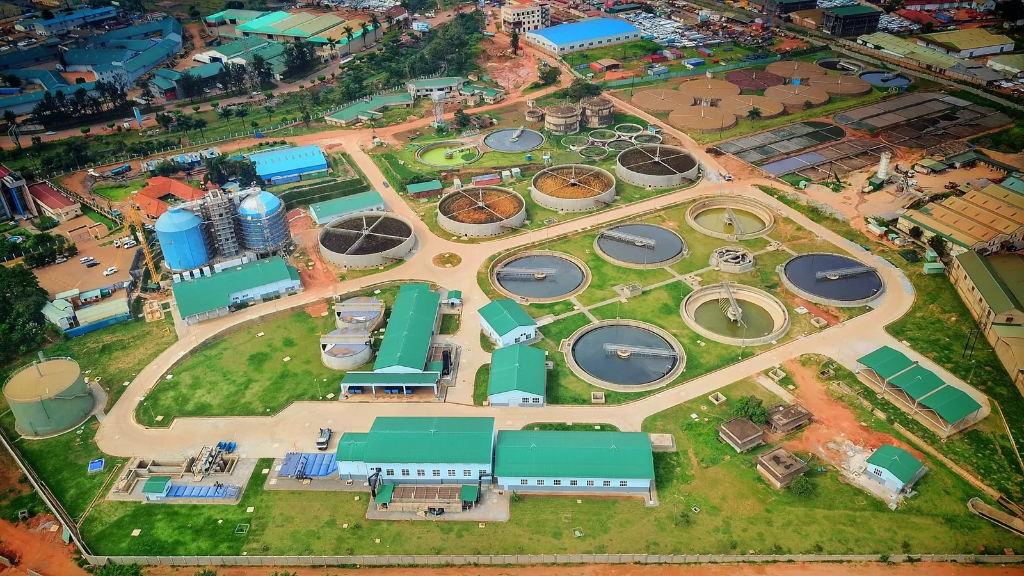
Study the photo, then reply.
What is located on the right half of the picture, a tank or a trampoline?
tank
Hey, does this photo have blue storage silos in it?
Yes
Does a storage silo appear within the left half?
Yes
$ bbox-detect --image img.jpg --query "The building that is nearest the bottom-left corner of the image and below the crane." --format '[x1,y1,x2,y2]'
[141,475,174,502]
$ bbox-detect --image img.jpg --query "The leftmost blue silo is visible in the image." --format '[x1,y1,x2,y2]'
[151,206,214,277]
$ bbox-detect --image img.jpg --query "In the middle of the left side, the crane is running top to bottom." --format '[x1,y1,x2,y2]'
[114,185,164,285]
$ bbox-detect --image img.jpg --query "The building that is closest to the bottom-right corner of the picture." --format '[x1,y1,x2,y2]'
[867,444,924,493]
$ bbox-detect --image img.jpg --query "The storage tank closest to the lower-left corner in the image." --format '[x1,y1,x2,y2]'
[0,348,92,431]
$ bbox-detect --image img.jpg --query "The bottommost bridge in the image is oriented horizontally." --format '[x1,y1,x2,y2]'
[603,344,681,359]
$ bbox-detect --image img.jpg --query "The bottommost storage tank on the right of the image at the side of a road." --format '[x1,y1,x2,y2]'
[555,320,684,393]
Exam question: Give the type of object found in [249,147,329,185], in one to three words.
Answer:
shed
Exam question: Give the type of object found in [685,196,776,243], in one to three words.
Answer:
storage tank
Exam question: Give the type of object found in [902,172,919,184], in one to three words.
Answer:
vehicle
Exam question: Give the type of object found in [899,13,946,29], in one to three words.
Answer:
building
